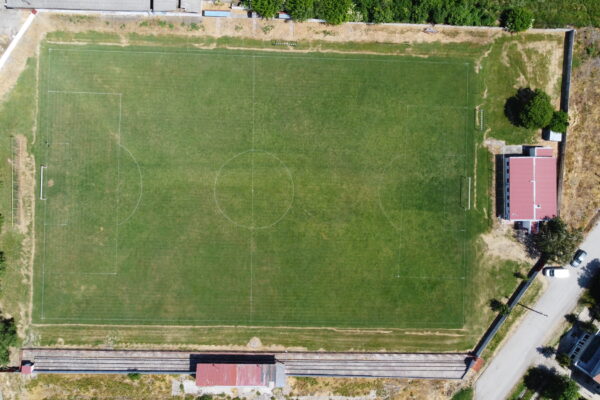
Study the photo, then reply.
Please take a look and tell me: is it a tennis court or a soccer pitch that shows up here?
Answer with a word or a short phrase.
soccer pitch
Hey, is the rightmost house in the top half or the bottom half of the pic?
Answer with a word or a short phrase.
bottom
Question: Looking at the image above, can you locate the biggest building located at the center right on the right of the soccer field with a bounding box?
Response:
[500,148,557,234]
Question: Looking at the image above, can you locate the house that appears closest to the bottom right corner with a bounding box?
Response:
[568,313,600,380]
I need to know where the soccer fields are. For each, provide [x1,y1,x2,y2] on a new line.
[34,46,474,331]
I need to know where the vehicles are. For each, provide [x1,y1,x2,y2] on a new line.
[546,268,571,278]
[569,249,586,267]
